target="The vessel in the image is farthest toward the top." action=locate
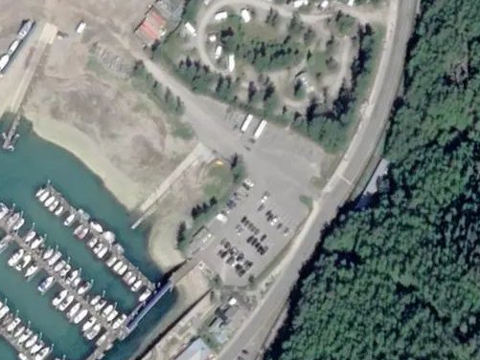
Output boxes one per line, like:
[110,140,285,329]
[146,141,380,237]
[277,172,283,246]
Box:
[13,20,31,39]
